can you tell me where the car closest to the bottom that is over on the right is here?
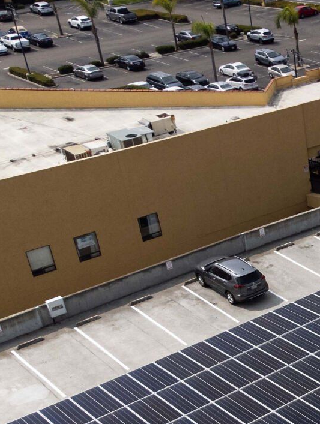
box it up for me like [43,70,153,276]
[193,255,268,305]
